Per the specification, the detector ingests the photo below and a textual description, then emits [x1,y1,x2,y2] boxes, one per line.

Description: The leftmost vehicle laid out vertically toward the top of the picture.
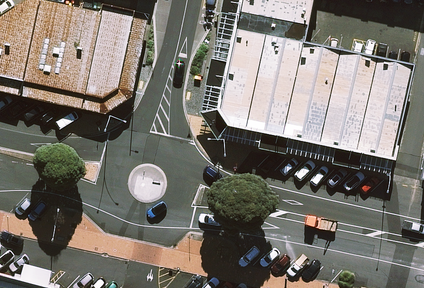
[172,59,185,87]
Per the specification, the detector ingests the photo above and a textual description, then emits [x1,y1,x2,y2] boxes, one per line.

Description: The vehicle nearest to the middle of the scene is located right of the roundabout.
[199,162,224,180]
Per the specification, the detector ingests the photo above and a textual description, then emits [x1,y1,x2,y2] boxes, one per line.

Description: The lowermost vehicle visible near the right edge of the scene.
[401,220,424,236]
